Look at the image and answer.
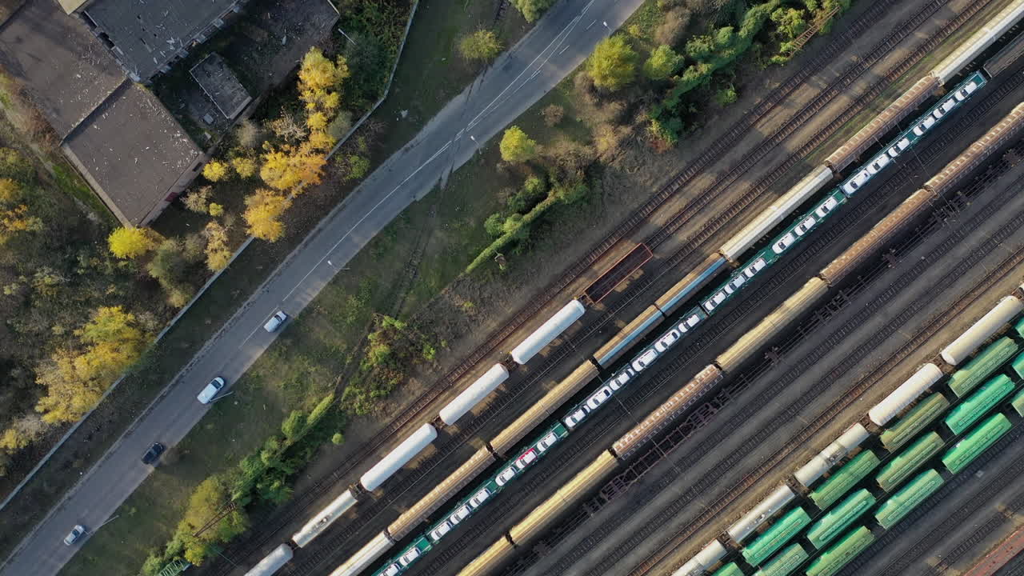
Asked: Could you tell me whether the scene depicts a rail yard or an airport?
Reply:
rail yard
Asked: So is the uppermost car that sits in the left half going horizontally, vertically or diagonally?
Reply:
diagonally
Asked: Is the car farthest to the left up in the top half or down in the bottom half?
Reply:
bottom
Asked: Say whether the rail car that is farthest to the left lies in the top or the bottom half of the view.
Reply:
bottom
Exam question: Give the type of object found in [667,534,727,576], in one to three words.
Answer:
rail car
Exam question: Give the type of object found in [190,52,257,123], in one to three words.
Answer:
shed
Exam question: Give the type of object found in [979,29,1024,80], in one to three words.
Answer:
rail car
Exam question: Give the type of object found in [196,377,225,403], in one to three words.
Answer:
vehicle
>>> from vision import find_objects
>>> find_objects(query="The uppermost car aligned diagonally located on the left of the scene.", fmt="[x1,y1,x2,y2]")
[263,311,287,333]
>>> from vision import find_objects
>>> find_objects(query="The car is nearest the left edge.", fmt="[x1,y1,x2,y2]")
[64,523,86,545]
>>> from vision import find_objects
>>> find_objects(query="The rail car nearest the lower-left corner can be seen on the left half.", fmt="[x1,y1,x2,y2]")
[243,537,299,576]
